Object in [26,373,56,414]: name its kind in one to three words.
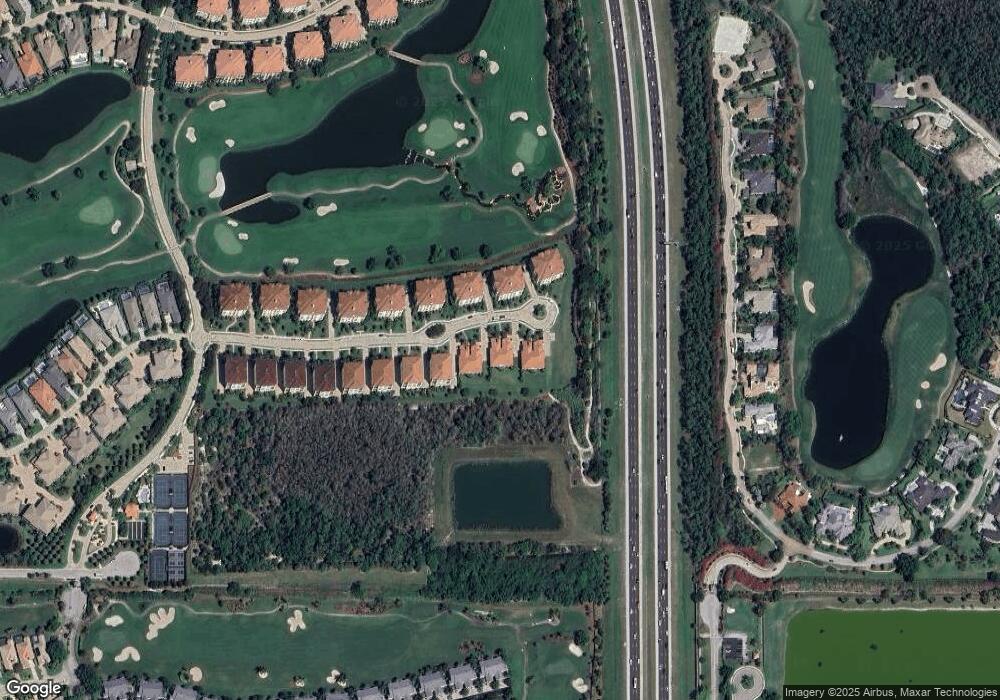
house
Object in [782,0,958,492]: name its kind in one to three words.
golf course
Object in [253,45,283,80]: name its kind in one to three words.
house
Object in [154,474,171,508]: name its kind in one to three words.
tennis court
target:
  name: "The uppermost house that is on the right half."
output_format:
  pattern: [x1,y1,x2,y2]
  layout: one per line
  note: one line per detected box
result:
[747,50,778,79]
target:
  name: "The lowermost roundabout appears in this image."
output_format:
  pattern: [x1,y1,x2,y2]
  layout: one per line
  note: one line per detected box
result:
[731,665,765,698]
